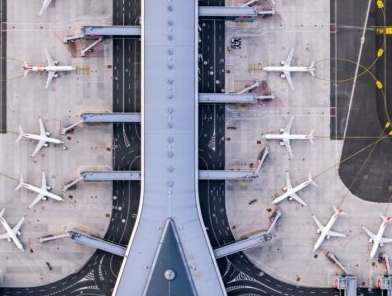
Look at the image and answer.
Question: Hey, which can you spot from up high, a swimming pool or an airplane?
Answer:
airplane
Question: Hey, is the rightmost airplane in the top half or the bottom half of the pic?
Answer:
bottom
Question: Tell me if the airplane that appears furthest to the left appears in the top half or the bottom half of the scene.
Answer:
bottom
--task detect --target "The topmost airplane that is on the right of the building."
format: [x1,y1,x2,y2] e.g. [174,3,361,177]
[263,46,317,90]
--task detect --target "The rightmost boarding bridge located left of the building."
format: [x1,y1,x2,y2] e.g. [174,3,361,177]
[78,36,104,56]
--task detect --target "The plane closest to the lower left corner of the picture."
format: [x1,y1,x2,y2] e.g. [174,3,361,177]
[0,212,25,250]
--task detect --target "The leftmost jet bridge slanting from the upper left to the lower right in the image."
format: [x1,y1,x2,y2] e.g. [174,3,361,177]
[325,251,349,275]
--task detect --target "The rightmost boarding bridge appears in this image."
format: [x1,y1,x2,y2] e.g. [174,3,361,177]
[379,251,391,275]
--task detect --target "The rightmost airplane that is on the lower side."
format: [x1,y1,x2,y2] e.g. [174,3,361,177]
[363,215,392,259]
